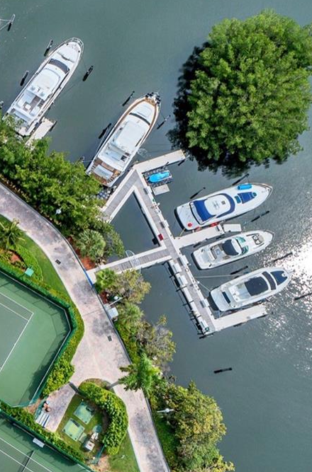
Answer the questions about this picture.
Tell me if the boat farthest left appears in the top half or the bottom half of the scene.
top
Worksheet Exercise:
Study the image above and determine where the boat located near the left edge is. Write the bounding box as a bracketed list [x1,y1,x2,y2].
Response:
[2,33,85,145]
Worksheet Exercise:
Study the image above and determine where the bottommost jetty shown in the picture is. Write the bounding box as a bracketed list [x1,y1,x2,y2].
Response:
[202,306,273,337]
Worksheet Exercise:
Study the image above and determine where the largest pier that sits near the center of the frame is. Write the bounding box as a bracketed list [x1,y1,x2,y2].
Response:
[100,150,219,336]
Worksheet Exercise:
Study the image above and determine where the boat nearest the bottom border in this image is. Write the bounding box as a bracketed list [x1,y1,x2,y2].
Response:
[204,266,297,314]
